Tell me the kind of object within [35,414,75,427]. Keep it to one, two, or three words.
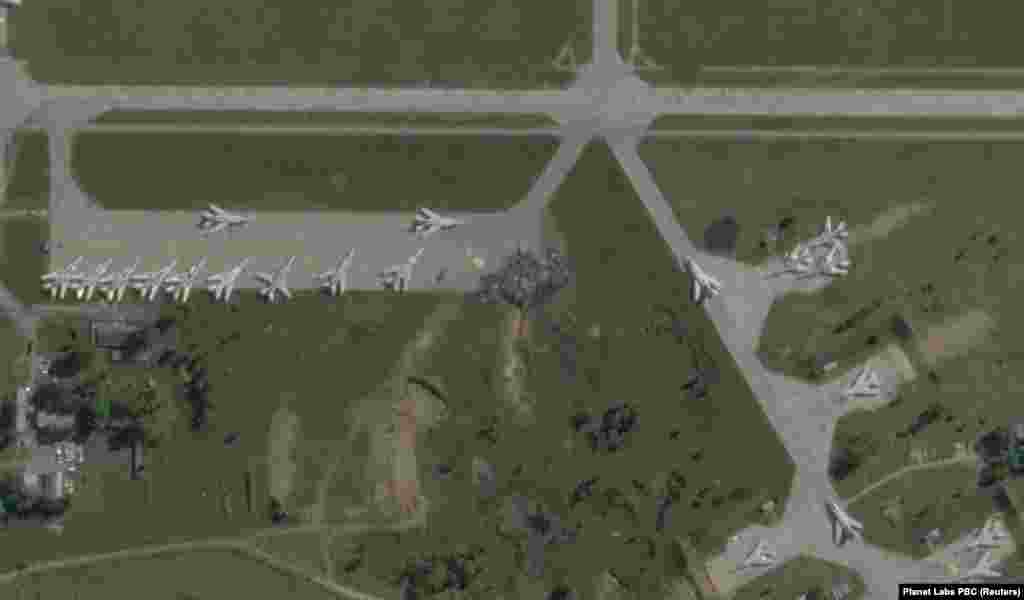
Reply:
house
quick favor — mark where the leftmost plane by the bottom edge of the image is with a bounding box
[734,537,780,571]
